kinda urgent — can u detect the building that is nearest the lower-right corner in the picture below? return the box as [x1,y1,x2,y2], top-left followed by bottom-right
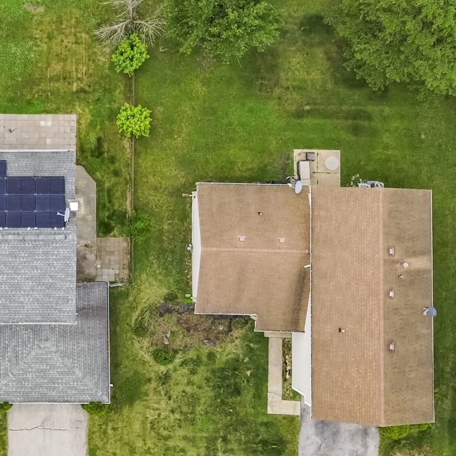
[183,181,439,427]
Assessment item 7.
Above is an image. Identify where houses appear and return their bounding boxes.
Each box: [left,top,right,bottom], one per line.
[0,148,122,405]
[183,181,439,427]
